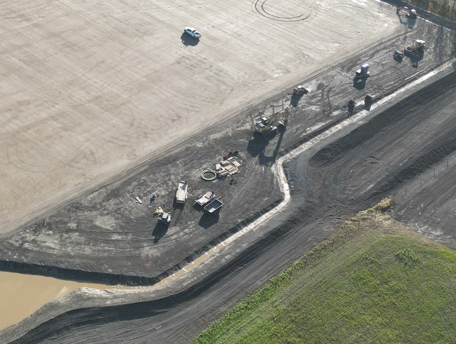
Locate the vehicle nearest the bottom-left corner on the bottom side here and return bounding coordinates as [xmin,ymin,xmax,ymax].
[157,213,172,225]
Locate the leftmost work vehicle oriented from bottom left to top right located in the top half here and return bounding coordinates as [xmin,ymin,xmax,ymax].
[254,104,294,138]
